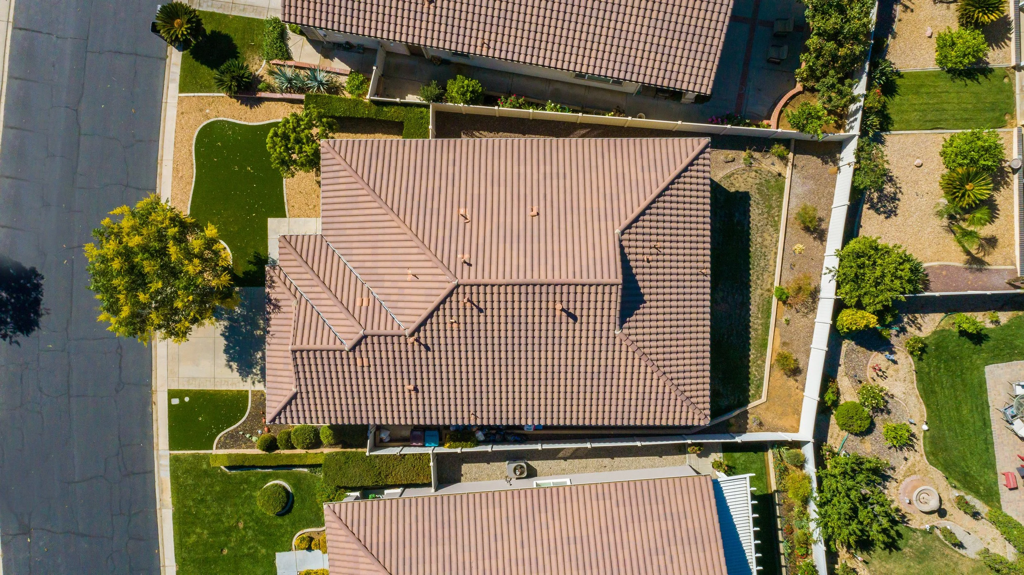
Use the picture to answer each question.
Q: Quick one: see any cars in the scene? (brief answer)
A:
No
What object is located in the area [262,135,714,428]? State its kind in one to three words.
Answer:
house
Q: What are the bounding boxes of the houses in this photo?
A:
[320,468,731,575]
[262,135,714,428]
[280,0,736,105]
